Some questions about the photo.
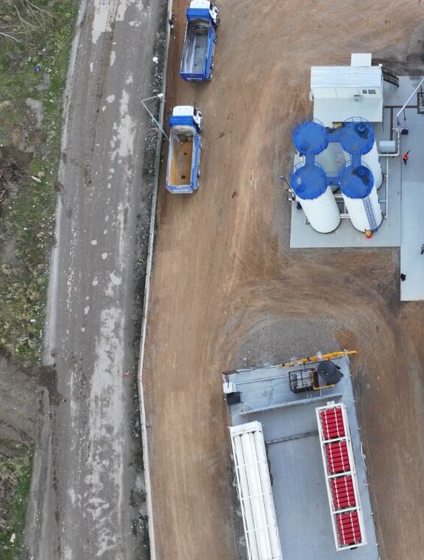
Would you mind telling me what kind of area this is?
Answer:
industrial area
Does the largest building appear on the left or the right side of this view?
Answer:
right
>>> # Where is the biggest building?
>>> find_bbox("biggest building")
[311,53,386,132]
